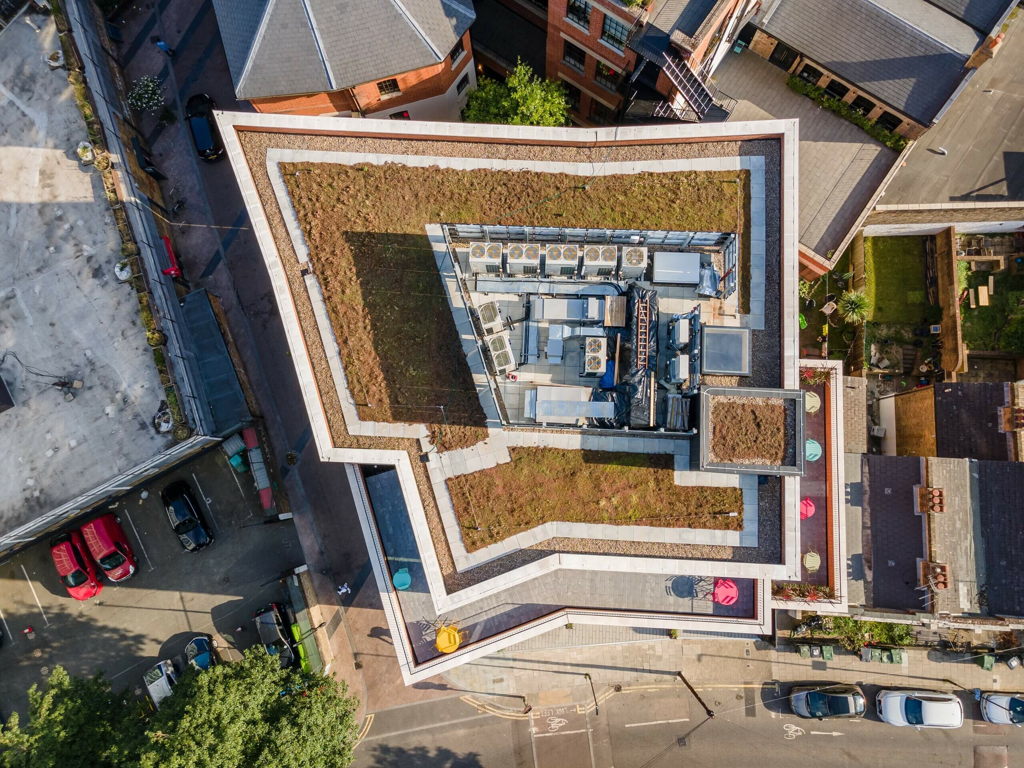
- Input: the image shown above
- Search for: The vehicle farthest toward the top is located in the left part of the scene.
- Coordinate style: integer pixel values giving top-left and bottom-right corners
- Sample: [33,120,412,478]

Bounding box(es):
[186,93,229,163]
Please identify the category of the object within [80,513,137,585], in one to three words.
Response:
car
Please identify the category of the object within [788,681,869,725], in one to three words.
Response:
car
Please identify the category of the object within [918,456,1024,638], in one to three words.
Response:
house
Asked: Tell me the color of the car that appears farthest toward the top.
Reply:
black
